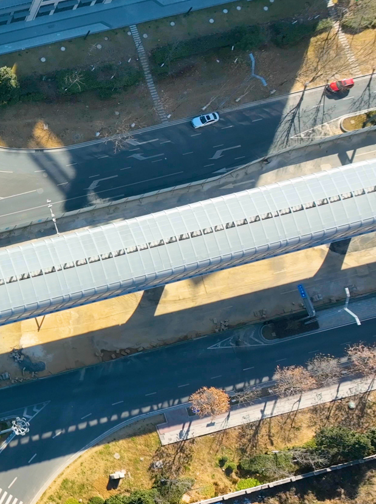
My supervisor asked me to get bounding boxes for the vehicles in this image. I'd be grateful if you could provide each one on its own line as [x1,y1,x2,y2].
[327,80,353,96]
[191,113,219,129]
